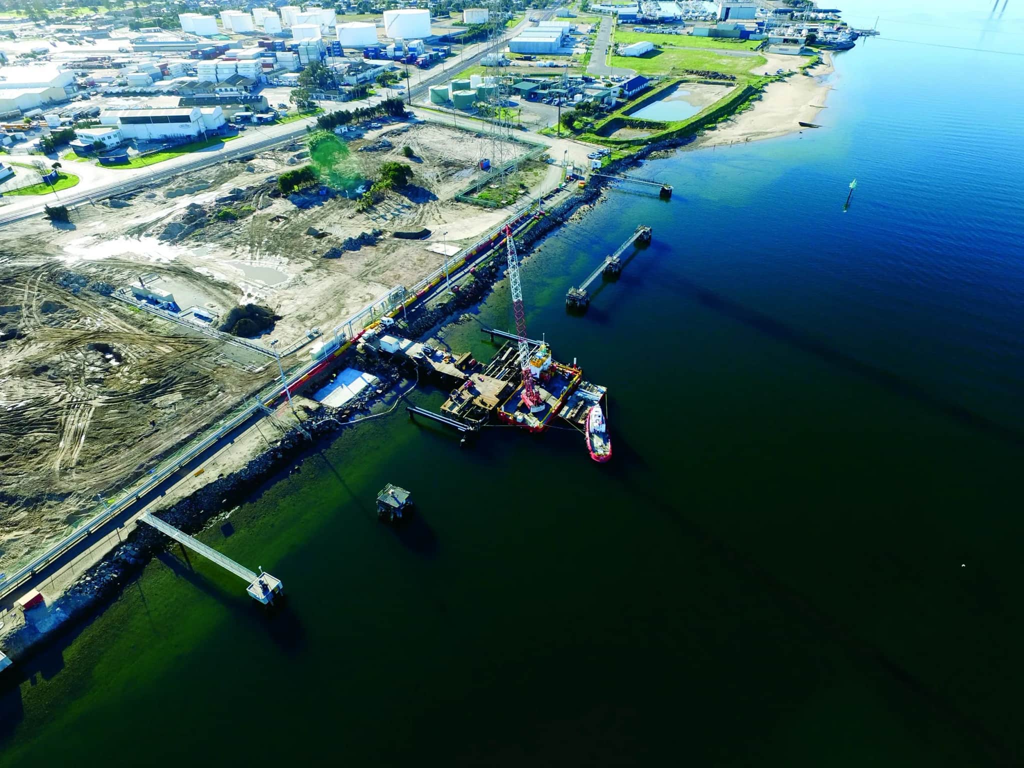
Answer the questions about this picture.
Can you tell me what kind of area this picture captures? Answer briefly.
port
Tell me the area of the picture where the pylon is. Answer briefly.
top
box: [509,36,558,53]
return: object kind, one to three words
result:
building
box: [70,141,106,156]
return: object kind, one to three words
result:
building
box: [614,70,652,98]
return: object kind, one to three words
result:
house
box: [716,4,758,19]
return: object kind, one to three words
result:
shed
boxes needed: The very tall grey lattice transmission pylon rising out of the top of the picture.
[467,0,523,201]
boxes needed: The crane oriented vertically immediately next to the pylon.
[505,229,546,404]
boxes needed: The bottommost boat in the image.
[585,403,614,457]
